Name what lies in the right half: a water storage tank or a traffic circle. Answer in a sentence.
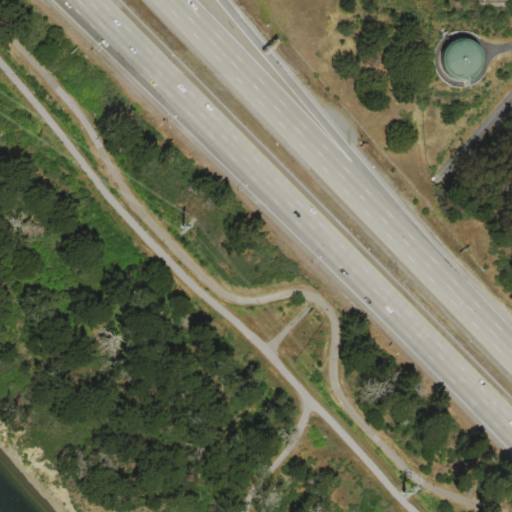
The one visible in the right half is a water storage tank.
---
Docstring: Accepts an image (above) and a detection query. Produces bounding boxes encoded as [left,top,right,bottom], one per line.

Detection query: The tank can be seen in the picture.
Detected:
[442,39,484,80]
